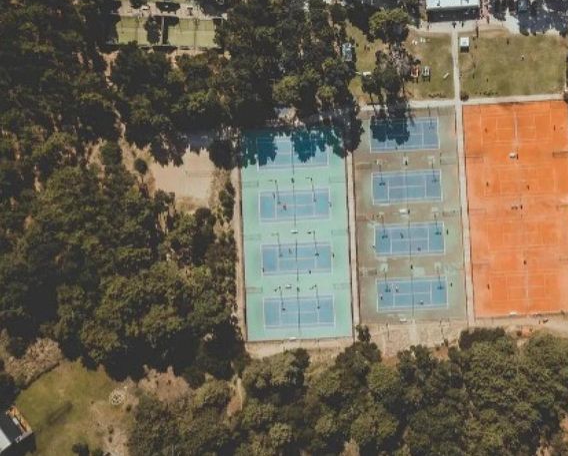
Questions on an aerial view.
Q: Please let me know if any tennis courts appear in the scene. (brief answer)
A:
Yes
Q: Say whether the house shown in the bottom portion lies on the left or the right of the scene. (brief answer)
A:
left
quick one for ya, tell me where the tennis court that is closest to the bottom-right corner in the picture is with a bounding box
[472,258,568,319]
